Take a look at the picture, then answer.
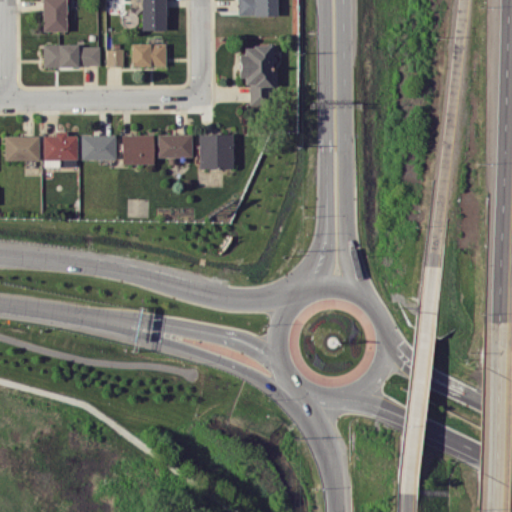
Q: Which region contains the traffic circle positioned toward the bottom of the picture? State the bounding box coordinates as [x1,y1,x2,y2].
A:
[272,282,395,404]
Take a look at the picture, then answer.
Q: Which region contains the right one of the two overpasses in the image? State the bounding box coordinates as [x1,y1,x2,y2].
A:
[481,322,512,512]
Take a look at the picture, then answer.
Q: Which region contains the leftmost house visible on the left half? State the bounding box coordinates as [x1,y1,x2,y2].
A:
[4,137,41,162]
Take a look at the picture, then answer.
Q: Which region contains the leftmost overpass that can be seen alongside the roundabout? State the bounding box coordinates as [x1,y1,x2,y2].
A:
[397,267,456,496]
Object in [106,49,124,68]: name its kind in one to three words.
building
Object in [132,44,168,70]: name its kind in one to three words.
house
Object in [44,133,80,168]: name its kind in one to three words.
house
